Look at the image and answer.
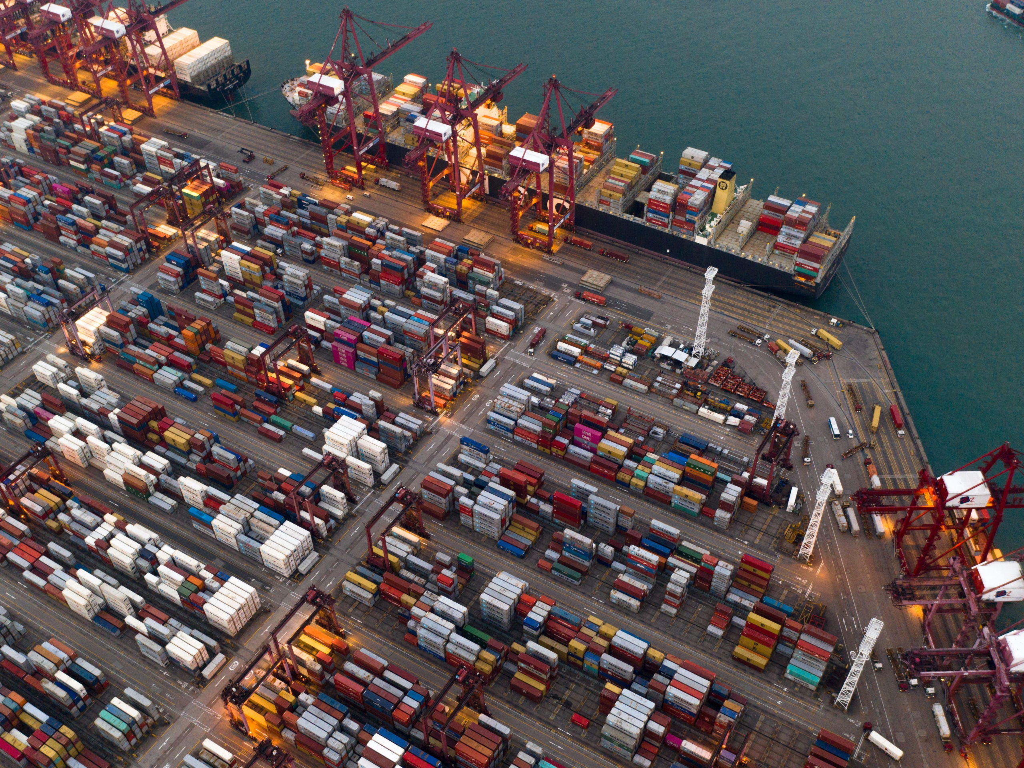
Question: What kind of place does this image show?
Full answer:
This image shows a port.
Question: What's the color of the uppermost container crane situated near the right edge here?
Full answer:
The uppermost container crane situated near the right edge looks red in the image.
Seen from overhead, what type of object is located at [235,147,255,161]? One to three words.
work vehicle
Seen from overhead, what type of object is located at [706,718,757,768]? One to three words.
container crane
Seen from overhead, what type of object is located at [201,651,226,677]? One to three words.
shipping container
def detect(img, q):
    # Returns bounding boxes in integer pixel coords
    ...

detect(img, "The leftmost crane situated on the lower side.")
[0,436,75,523]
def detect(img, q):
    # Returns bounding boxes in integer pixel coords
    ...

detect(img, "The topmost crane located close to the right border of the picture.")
[849,445,1024,586]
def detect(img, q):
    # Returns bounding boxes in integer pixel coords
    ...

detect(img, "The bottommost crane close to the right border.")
[903,627,1024,754]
